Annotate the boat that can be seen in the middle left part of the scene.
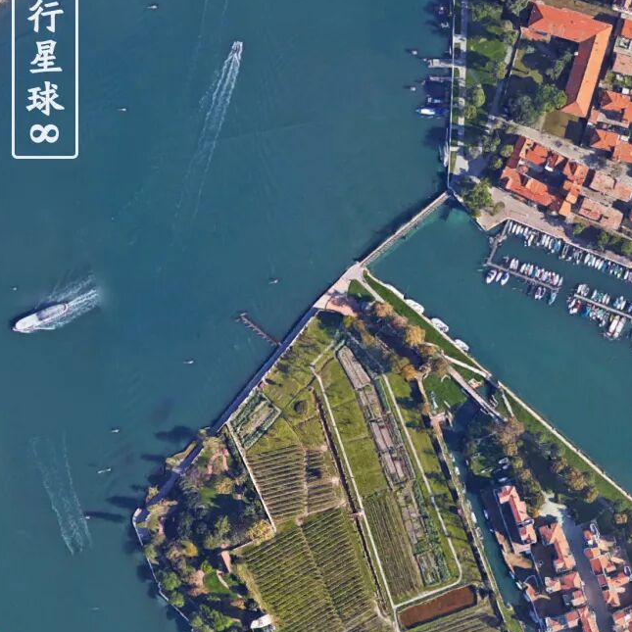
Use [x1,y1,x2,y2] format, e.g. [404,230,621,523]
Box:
[12,301,69,329]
